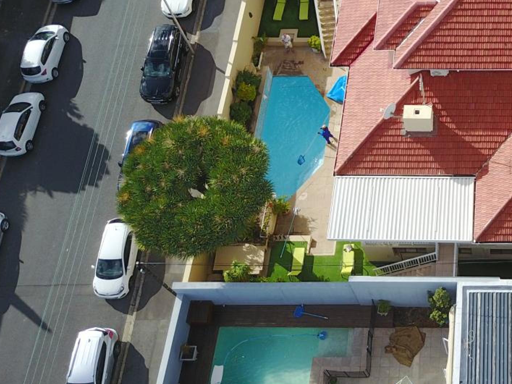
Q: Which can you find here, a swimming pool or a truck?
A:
swimming pool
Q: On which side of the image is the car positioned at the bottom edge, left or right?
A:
left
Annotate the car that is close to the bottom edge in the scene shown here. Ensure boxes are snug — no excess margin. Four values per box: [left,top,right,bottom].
[60,328,117,384]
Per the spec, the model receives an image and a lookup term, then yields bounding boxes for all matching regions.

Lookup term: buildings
[453,280,512,384]
[328,0,512,270]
